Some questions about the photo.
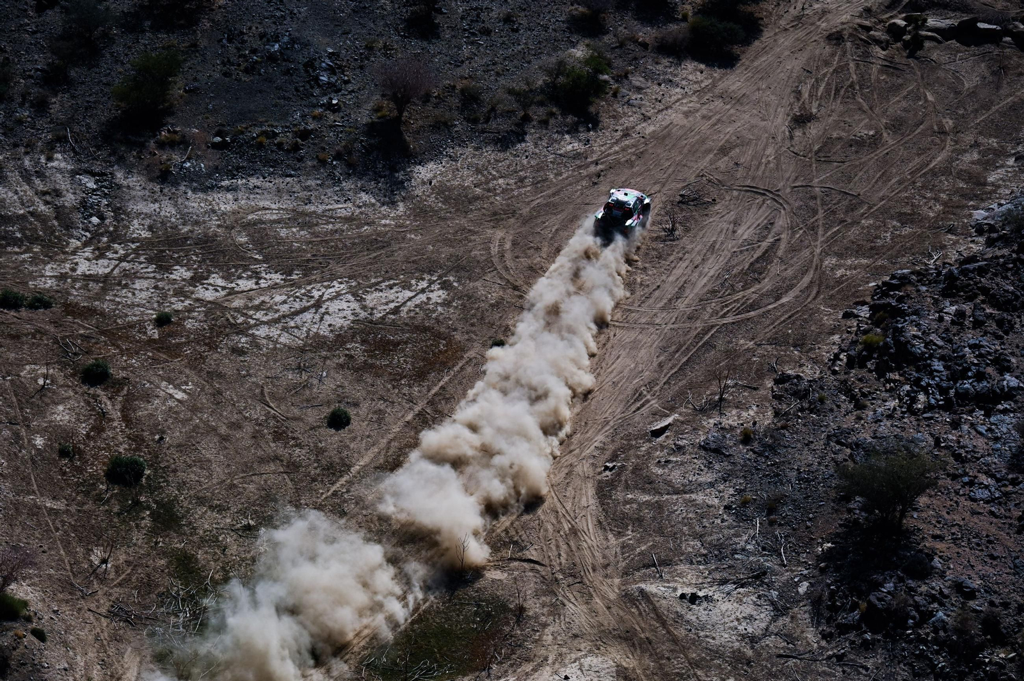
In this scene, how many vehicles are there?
1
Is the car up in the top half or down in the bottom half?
top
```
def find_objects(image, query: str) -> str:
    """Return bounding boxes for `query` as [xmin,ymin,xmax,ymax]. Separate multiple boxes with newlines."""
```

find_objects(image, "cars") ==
[593,187,653,244]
